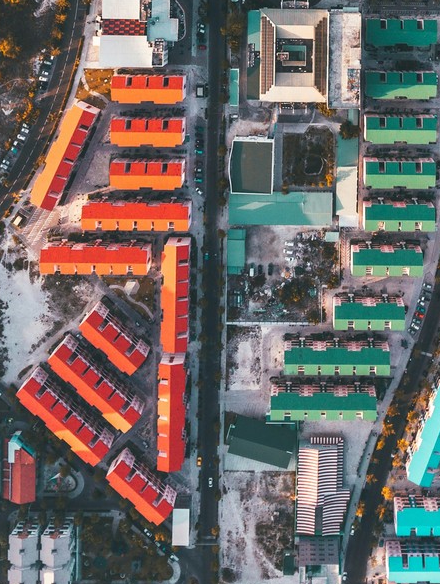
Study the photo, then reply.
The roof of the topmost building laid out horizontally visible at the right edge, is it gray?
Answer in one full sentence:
No, the roof of the topmost building laid out horizontally visible at the right edge is green.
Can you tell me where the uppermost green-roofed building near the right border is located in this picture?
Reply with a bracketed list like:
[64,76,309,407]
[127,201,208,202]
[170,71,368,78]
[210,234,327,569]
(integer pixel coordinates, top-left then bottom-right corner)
[363,17,438,46]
